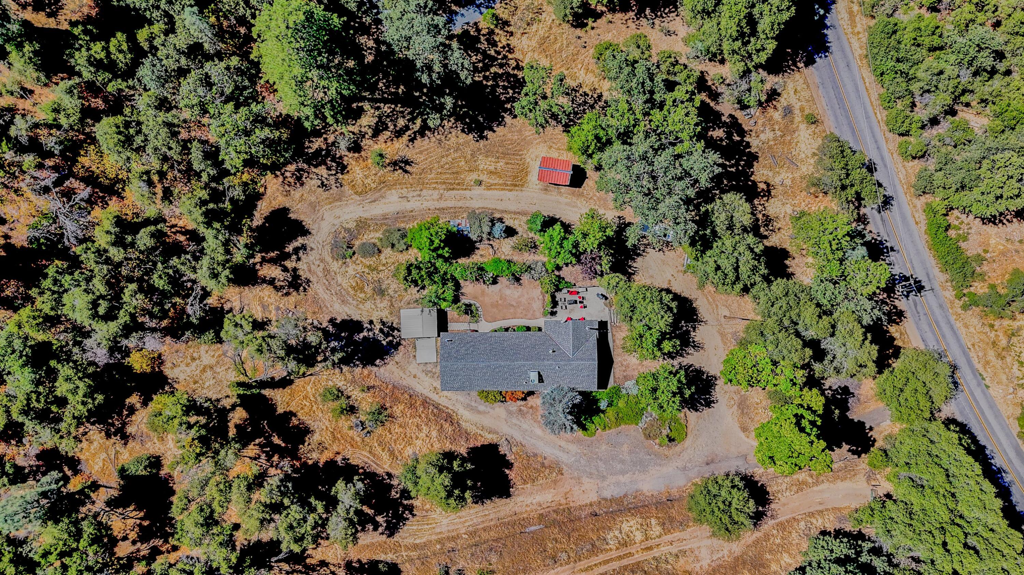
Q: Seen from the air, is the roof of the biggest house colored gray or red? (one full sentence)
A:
The color of the roof of the biggest house is gray.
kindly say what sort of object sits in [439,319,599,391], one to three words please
house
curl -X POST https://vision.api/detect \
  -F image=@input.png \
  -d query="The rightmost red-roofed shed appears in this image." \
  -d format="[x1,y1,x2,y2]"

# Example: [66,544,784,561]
[537,156,573,185]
